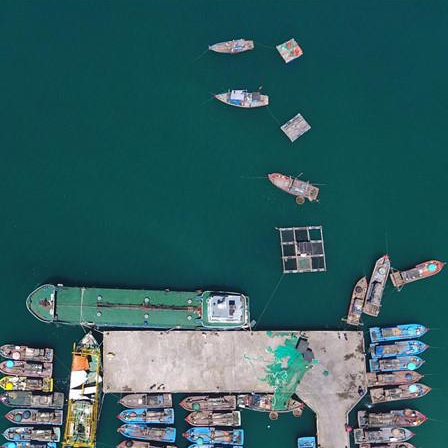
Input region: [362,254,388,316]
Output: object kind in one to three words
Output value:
boat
